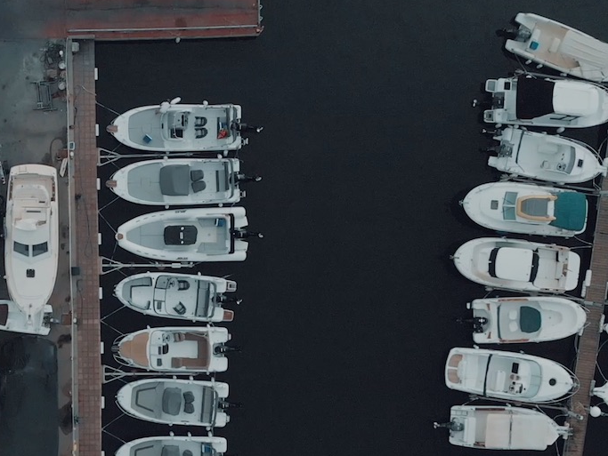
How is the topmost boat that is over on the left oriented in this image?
horizontally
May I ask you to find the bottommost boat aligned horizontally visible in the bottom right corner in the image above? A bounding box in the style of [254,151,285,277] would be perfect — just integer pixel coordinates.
[434,404,574,452]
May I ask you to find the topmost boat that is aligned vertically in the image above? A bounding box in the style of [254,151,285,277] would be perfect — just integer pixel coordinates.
[5,164,59,327]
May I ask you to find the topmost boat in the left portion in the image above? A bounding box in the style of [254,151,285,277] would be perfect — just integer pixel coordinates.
[107,96,261,154]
